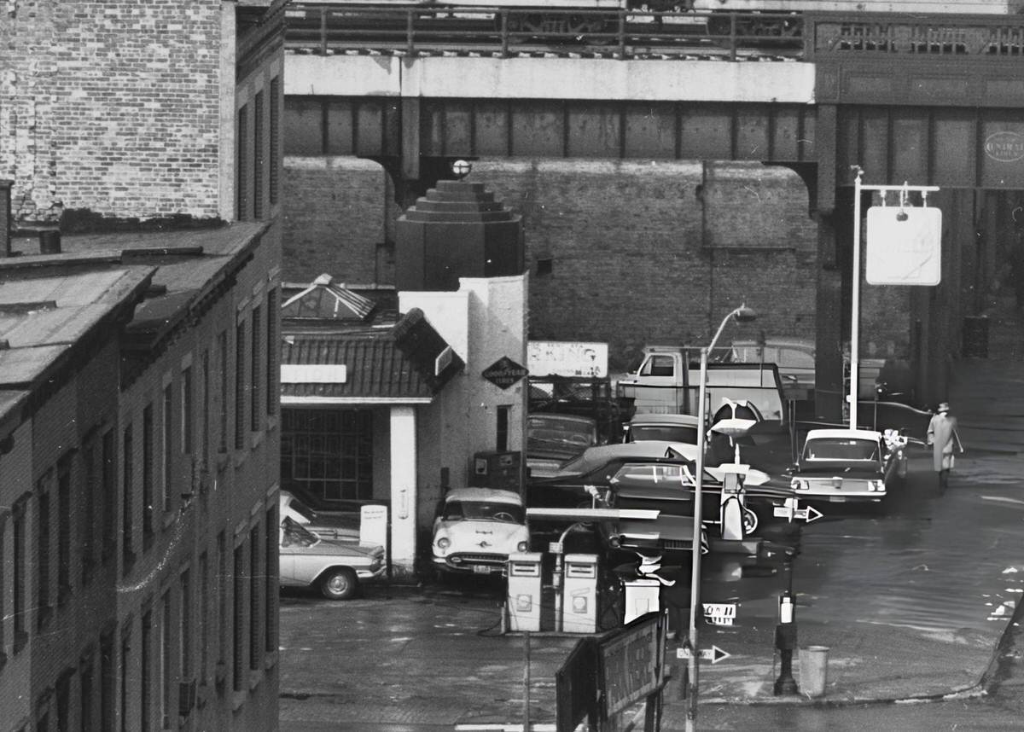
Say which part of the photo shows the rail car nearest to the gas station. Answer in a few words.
top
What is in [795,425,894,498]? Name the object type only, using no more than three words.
car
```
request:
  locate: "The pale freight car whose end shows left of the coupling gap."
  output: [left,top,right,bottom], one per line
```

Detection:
[280,0,646,39]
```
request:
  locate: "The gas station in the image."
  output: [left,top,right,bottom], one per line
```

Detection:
[280,159,530,574]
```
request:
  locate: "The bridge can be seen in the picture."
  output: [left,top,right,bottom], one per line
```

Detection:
[280,0,1024,419]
